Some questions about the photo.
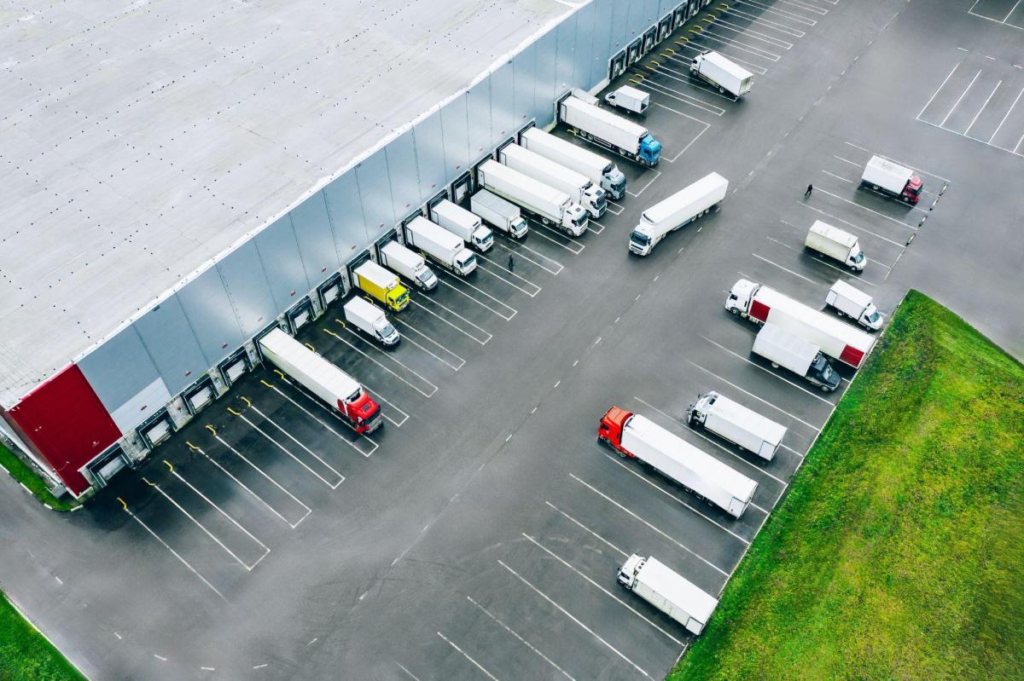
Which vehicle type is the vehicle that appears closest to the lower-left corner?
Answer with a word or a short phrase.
truck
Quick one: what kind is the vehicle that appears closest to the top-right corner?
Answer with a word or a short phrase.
truck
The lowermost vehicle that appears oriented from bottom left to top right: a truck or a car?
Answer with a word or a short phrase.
truck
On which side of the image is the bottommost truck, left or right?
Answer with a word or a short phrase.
right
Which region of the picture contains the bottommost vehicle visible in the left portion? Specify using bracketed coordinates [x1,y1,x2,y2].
[258,326,386,432]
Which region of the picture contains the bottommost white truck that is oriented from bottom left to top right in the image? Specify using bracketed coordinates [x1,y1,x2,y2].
[626,172,729,256]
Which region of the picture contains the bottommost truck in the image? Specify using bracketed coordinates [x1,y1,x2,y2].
[613,550,719,636]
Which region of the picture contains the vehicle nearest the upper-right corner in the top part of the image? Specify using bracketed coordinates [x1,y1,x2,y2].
[860,155,925,203]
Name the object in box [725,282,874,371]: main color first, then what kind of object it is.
white truck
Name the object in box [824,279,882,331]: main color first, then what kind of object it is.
white van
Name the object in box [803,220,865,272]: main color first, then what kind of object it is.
white van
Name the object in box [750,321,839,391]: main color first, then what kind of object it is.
white truck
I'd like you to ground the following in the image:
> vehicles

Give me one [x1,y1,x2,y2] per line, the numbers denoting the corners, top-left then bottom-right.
[379,240,438,292]
[690,52,753,100]
[725,282,874,371]
[605,85,650,117]
[406,216,479,276]
[522,125,630,197]
[626,172,729,256]
[750,321,839,391]
[352,259,413,313]
[478,159,590,235]
[824,279,882,331]
[598,408,757,520]
[860,155,925,203]
[803,220,865,272]
[613,550,719,636]
[688,394,787,463]
[344,295,399,346]
[470,189,531,240]
[560,96,665,165]
[258,326,386,432]
[431,198,496,252]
